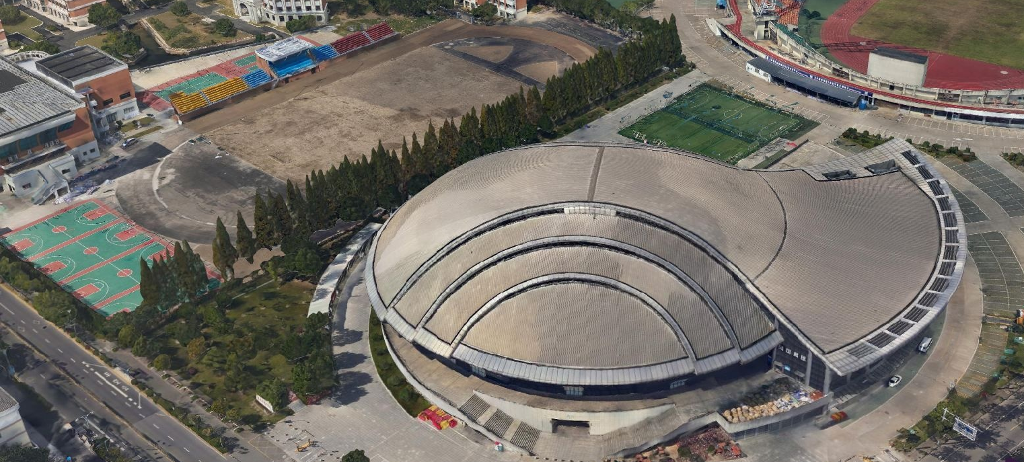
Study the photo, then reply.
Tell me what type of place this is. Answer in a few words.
sports ground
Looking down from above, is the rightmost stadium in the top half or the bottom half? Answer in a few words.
top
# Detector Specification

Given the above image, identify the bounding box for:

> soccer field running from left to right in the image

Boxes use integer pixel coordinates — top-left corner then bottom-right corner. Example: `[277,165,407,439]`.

[624,85,801,161]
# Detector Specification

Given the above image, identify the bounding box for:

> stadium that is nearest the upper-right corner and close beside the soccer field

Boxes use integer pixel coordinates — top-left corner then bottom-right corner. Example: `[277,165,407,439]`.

[706,0,1024,128]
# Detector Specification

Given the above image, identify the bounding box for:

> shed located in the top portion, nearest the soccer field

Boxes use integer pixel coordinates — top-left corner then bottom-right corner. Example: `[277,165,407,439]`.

[747,56,863,115]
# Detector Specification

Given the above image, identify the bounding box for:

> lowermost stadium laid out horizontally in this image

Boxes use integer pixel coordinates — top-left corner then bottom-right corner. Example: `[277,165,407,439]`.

[365,139,968,400]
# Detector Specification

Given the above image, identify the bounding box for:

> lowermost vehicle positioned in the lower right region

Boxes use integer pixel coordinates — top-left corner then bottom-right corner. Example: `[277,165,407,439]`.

[885,375,904,388]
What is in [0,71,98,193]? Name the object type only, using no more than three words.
building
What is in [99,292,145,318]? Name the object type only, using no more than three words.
basketball court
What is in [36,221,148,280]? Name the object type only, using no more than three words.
basketball court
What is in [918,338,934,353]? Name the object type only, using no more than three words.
vehicle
